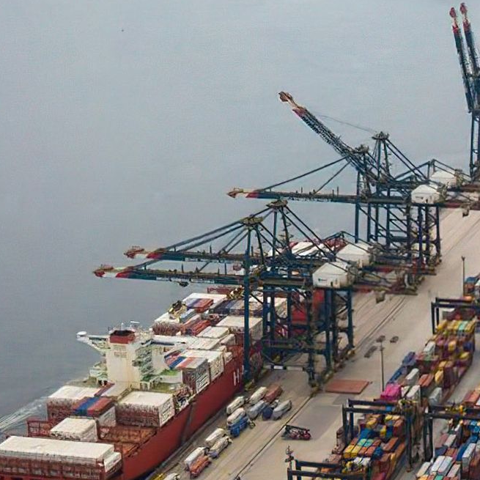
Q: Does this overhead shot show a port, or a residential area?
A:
port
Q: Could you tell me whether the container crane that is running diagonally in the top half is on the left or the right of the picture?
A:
right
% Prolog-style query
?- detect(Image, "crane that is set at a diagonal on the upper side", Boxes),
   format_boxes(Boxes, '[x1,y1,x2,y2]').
[277,86,480,262]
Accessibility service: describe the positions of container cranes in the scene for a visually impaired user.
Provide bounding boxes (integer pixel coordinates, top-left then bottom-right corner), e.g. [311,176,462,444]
[433,294,480,335]
[341,395,420,463]
[123,200,435,367]
[447,2,480,176]
[288,455,372,480]
[277,86,480,262]
[92,217,416,389]
[227,144,480,283]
